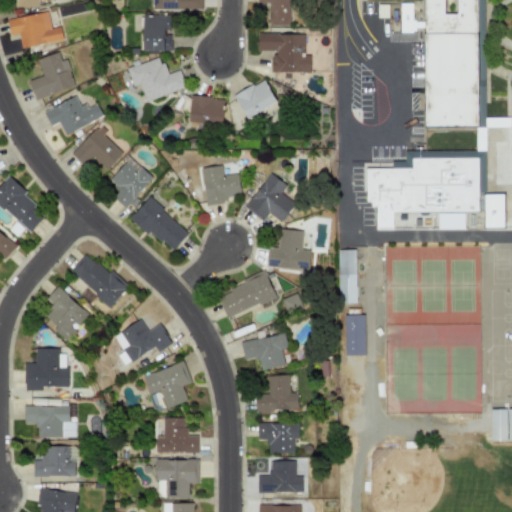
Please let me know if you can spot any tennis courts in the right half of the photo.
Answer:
Yes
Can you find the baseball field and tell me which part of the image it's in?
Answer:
bottom right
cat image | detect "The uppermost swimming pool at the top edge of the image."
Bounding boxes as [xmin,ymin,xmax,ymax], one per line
[112,26,124,50]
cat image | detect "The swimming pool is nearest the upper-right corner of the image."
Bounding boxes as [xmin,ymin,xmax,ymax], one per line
[308,76,328,95]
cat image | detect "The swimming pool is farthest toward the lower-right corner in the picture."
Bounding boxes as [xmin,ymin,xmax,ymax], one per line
[296,324,311,344]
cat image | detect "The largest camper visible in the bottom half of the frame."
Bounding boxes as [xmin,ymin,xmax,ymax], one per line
[232,324,257,339]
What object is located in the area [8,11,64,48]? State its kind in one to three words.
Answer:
house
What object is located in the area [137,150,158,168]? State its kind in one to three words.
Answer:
swimming pool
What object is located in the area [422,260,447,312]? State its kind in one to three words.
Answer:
tennis court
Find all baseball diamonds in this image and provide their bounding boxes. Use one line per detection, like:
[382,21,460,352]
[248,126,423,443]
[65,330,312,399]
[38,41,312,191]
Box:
[370,440,512,512]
